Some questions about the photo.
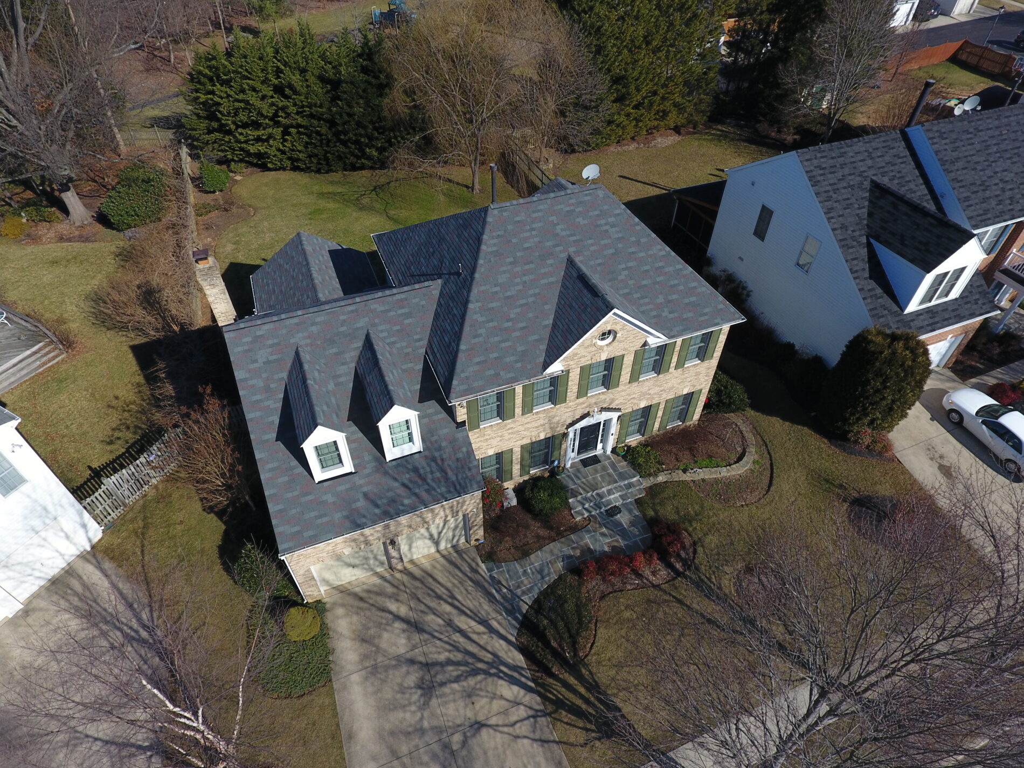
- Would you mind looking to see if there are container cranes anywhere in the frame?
No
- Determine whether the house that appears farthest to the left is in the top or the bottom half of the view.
bottom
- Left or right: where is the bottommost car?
right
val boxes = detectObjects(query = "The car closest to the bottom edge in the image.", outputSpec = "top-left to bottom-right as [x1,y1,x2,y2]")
[947,395,1024,469]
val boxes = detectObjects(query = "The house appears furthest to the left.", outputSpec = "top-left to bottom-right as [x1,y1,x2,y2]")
[0,403,116,617]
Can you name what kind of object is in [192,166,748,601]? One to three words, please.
house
